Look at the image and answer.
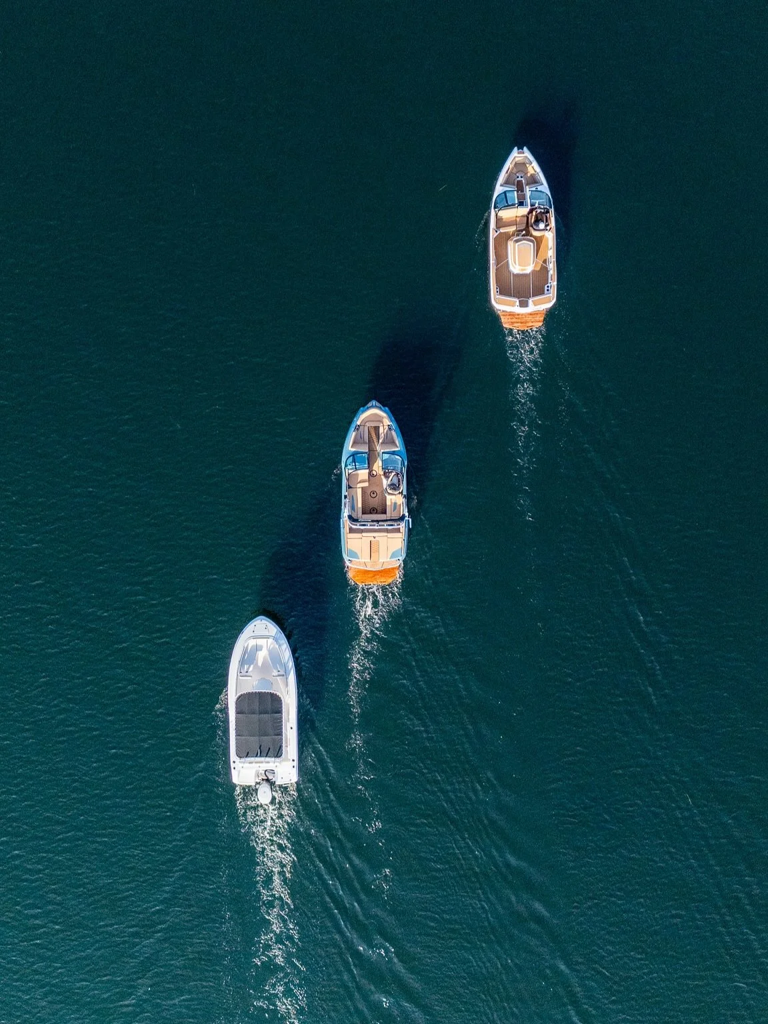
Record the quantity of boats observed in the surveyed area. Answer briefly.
3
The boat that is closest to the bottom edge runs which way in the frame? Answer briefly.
up and down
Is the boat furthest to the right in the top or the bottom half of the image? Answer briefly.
top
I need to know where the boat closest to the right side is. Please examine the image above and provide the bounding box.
[489,146,557,329]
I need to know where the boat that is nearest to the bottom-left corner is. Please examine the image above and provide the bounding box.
[228,615,299,801]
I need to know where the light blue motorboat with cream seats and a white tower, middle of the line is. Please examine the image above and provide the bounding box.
[340,400,412,585]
